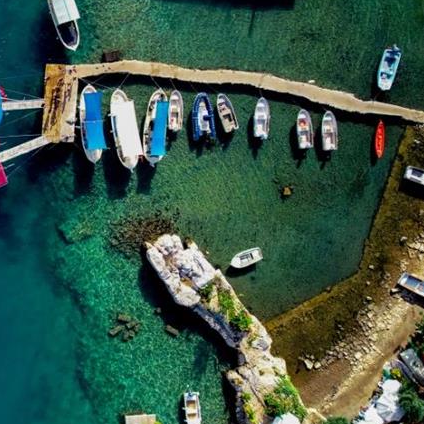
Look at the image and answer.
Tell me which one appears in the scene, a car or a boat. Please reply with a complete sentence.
Visible in the photo is a boat.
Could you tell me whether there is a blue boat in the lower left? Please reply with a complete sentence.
No, no blue boat is visible in the lower left.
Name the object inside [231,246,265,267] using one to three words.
boat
